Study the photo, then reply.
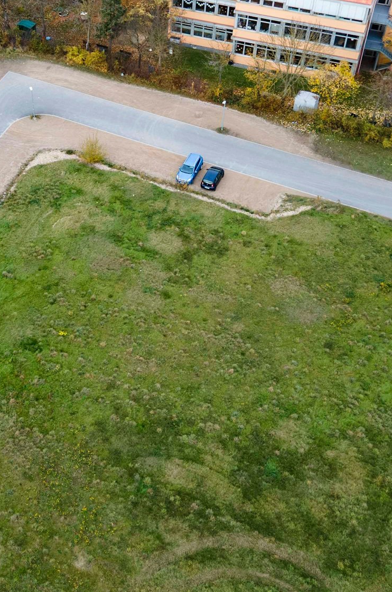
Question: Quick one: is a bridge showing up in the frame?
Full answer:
No, the picture doesn't show any bridge.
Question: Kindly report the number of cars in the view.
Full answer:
The number of cars here is 2.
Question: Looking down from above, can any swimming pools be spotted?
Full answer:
No, the photo shows no swimming pool.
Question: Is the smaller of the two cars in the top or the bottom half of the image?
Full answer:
It is in the top half that the smaller of the two cars appears.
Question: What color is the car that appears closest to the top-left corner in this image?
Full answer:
The car that appears closest to the top-left corner looks blue in the image.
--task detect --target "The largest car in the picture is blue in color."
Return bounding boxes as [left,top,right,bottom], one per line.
[179,152,207,185]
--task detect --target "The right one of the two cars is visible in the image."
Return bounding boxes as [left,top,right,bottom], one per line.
[202,164,226,189]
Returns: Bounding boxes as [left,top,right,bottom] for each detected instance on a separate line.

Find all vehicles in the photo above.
[202,164,226,189]
[179,152,207,185]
